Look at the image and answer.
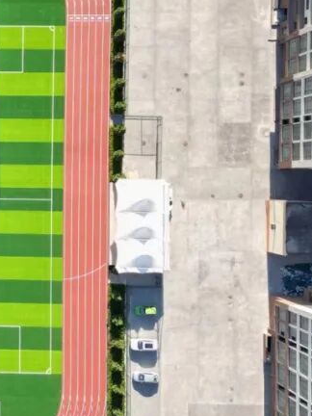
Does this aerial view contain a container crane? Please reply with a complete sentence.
No, the frame has no container crane in it.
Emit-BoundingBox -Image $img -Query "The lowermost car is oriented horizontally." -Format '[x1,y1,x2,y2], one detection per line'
[133,372,161,385]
